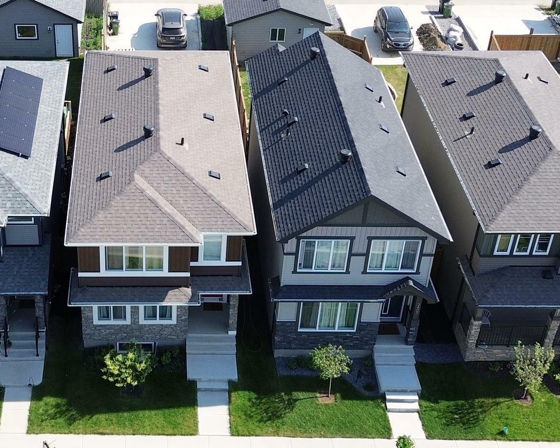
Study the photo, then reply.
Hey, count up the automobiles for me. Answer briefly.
2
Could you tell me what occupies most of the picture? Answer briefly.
buildings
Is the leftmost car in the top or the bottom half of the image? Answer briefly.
top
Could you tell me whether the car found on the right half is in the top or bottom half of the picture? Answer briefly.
top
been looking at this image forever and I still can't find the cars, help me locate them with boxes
[370,2,416,48]
[155,9,189,46]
